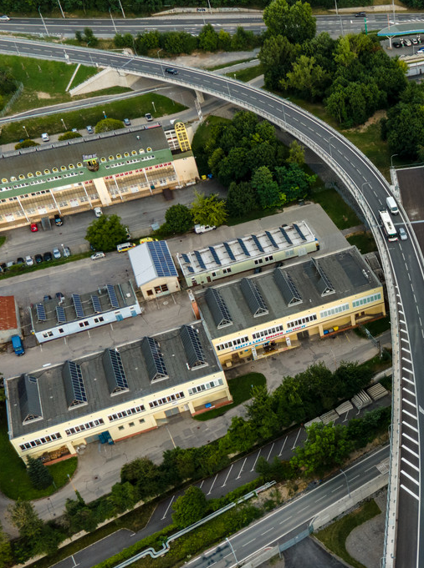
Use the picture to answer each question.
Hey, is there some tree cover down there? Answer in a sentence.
Yes, tree cover can be seen from above here.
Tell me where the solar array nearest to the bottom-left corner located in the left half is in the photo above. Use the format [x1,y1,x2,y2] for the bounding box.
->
[71,361,87,402]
